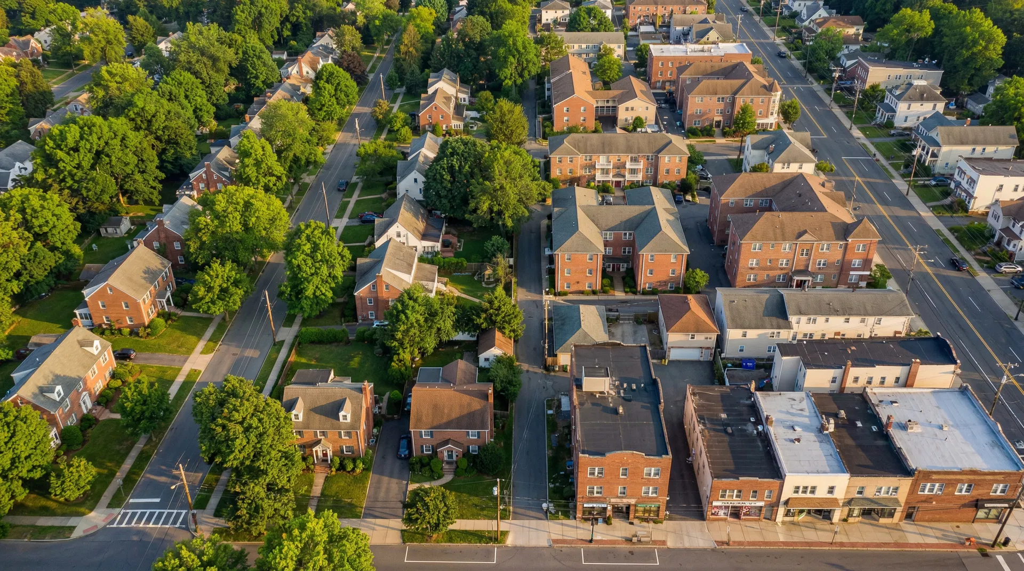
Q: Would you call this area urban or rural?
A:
urban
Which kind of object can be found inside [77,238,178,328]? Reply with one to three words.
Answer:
house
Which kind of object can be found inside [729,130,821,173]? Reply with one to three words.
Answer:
house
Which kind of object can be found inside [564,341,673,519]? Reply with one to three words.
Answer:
building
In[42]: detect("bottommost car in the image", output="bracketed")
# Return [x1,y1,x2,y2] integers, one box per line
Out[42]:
[397,431,411,454]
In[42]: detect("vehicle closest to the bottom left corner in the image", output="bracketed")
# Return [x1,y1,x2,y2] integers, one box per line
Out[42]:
[11,344,33,360]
